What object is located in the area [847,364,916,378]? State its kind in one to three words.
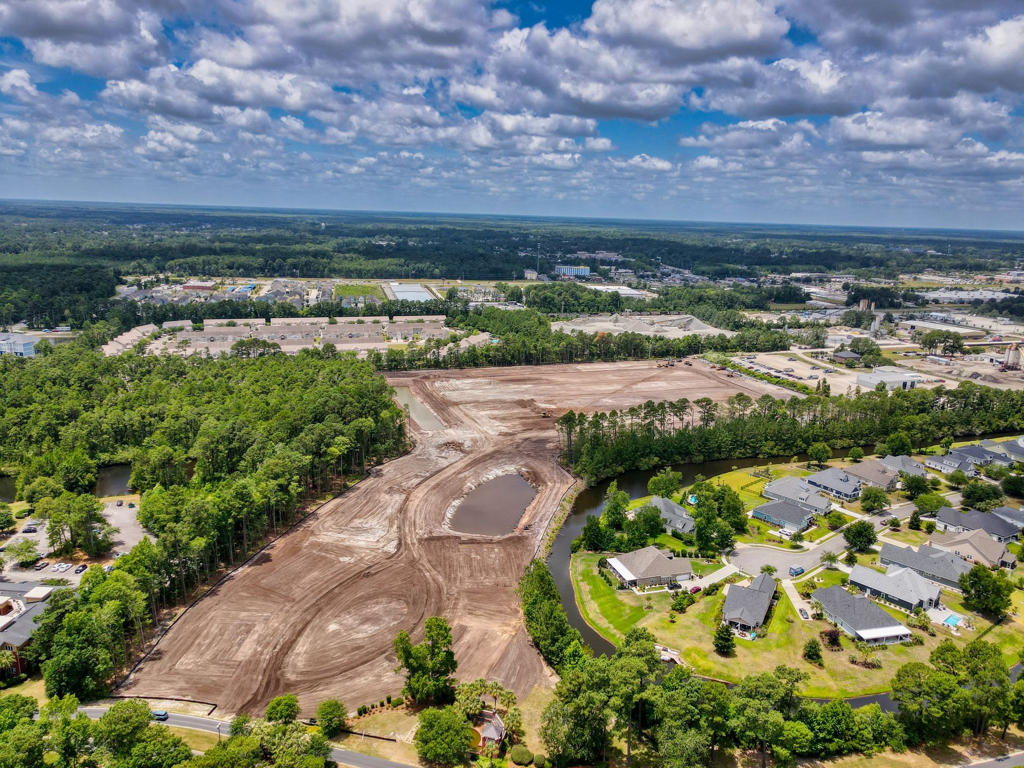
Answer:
shed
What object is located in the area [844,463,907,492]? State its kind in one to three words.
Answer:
house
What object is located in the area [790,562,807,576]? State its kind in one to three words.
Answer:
vehicle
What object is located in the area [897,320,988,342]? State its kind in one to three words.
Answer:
building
